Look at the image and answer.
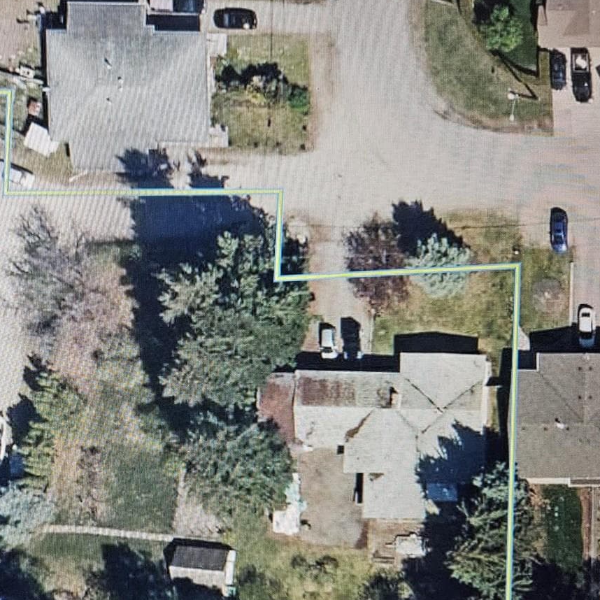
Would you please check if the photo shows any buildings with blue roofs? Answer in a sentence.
No, I can't see a single building with a blue roof in this photo.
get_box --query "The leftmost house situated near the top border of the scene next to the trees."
[46,0,210,175]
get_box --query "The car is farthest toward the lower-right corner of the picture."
[577,305,596,346]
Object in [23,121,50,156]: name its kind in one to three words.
shed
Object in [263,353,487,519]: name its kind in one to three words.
house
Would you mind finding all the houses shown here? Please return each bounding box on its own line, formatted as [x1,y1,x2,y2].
[46,0,210,175]
[263,353,487,519]
[516,352,600,487]
[537,0,600,48]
